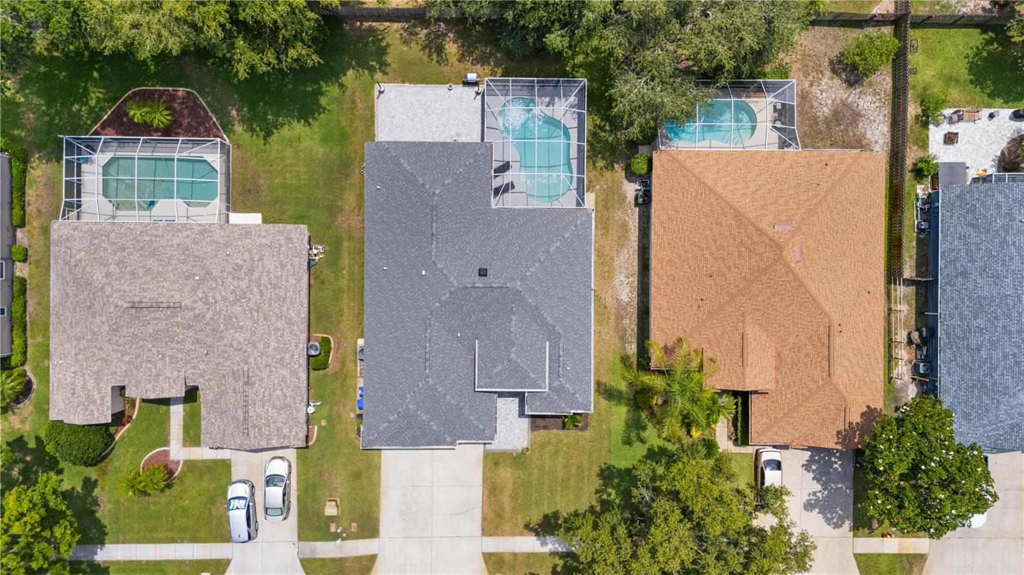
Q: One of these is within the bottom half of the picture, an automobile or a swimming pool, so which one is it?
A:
automobile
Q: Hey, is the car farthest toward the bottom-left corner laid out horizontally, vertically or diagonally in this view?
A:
vertically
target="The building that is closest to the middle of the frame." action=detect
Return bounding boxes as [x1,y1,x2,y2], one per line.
[360,140,594,449]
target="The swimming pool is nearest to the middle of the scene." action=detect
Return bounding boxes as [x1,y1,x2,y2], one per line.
[494,93,576,205]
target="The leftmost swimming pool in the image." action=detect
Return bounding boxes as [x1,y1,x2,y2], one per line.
[99,154,218,214]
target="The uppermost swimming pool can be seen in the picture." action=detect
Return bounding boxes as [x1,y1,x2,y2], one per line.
[660,93,761,148]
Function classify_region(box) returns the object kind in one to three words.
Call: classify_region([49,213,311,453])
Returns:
house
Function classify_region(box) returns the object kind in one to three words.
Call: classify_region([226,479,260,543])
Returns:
car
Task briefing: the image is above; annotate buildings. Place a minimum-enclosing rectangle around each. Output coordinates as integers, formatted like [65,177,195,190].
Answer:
[0,149,12,357]
[360,140,594,449]
[49,213,311,453]
[915,183,1024,450]
[649,149,887,451]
